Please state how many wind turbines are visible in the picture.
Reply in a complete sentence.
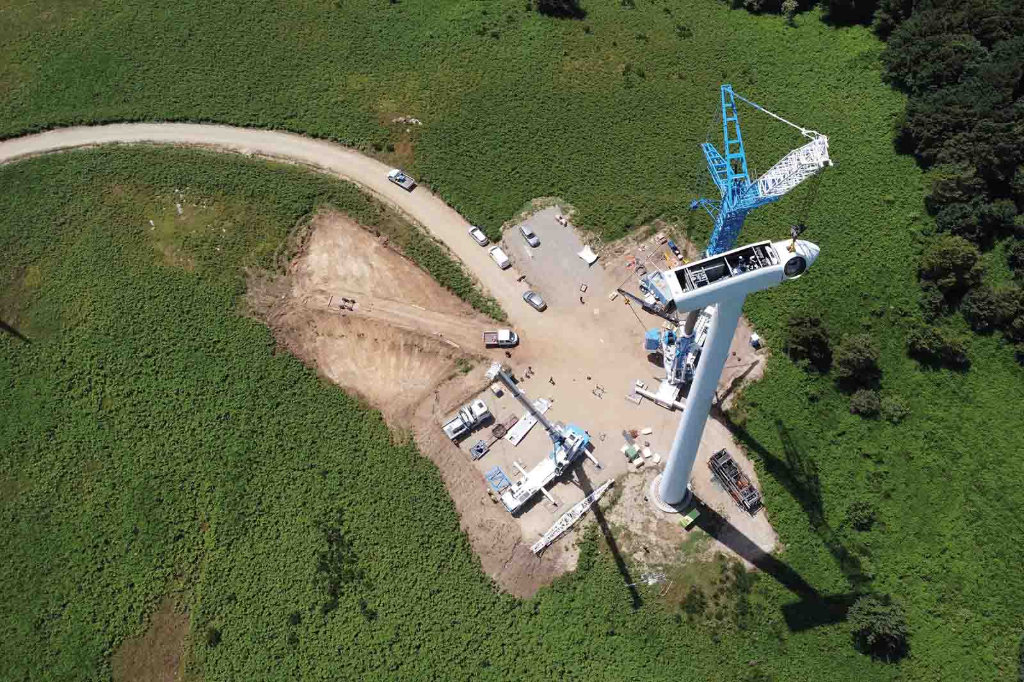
I count just 1 wind turbine.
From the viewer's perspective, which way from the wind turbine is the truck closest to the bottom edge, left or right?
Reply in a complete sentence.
In the image, the truck closest to the bottom edge sits on the left side of the wind turbine.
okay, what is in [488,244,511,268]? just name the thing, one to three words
vehicle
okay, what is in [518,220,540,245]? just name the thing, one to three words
car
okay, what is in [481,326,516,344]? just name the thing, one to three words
vehicle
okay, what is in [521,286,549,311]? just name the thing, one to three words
car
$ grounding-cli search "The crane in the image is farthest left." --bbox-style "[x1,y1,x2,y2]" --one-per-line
[479,361,597,511]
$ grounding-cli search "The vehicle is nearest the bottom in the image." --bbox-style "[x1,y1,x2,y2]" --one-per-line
[442,396,494,445]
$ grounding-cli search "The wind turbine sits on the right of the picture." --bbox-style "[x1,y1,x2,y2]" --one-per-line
[657,237,823,506]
